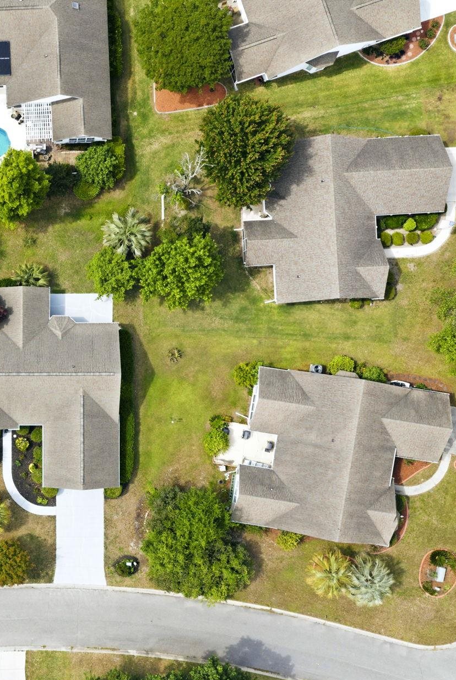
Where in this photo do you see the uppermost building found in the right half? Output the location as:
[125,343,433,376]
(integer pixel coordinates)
[229,0,426,86]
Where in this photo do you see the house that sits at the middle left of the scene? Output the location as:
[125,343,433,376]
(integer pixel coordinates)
[0,286,121,490]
